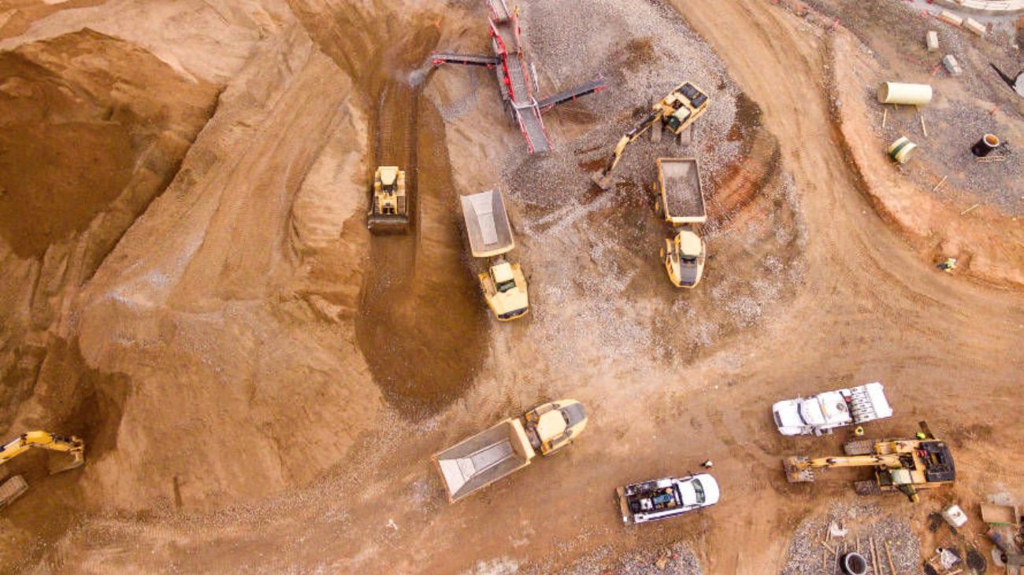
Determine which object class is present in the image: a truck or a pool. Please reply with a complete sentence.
It is a truck that can be seen here.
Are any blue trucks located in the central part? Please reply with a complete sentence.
No, the scene shows no blue truck in the central part.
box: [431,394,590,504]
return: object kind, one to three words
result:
truck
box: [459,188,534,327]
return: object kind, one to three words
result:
truck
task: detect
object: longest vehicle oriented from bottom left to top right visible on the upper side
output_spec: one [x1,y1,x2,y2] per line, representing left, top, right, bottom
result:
[592,80,717,192]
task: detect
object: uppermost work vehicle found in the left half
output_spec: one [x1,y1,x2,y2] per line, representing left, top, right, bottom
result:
[366,163,409,231]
